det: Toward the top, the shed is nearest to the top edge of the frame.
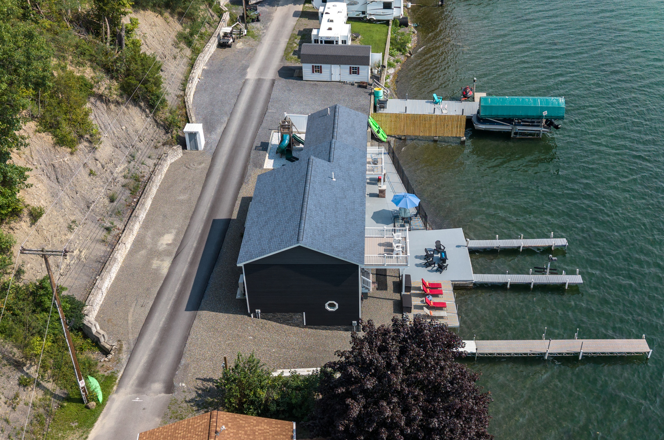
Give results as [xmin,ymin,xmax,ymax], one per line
[301,47,372,82]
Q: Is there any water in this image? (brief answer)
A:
Yes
